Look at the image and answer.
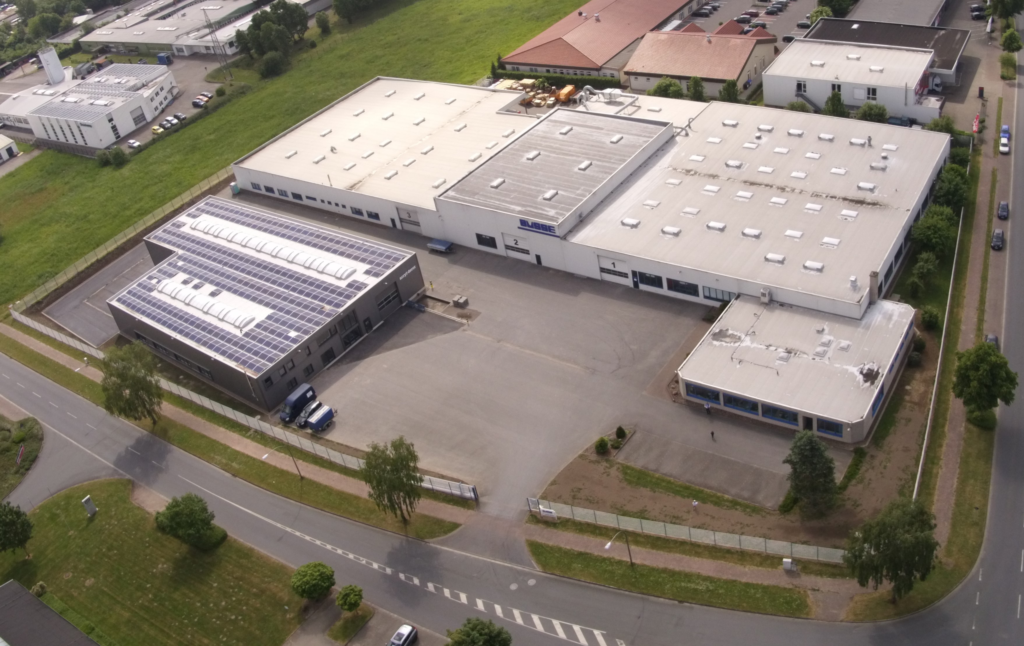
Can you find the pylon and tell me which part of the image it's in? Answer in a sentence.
The pylon is located in the top left region of the scene.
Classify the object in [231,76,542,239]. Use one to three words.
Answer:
building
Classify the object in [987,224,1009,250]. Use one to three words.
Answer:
car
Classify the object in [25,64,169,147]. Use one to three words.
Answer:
building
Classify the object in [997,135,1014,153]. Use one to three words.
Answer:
car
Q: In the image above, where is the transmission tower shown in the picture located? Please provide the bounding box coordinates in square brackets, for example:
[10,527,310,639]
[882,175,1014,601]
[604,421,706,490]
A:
[179,0,242,84]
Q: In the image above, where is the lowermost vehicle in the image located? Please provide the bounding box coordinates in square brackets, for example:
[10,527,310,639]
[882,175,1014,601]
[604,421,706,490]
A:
[383,615,425,646]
